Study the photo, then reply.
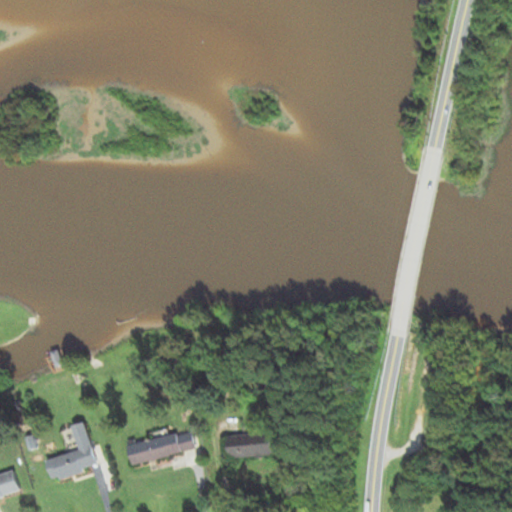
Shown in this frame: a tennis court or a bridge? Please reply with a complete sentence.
The one in the frame is a bridge.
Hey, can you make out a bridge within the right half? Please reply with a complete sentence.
Yes, a bridge appears within the right half.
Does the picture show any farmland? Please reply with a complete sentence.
No, no farmland is visible.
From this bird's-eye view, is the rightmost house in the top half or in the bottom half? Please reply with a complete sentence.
You can find the rightmost house in the bottom half.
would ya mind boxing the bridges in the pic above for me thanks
[390,146,444,336]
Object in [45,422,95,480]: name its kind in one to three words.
house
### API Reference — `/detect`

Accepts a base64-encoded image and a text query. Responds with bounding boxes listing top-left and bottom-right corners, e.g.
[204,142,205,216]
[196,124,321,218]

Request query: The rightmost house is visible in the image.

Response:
[224,436,271,460]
